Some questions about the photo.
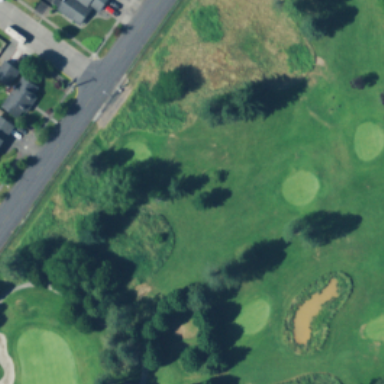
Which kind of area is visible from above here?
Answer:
golf course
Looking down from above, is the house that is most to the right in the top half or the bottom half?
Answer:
top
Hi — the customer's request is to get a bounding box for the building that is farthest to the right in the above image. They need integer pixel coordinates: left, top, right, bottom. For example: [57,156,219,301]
[50,0,98,25]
